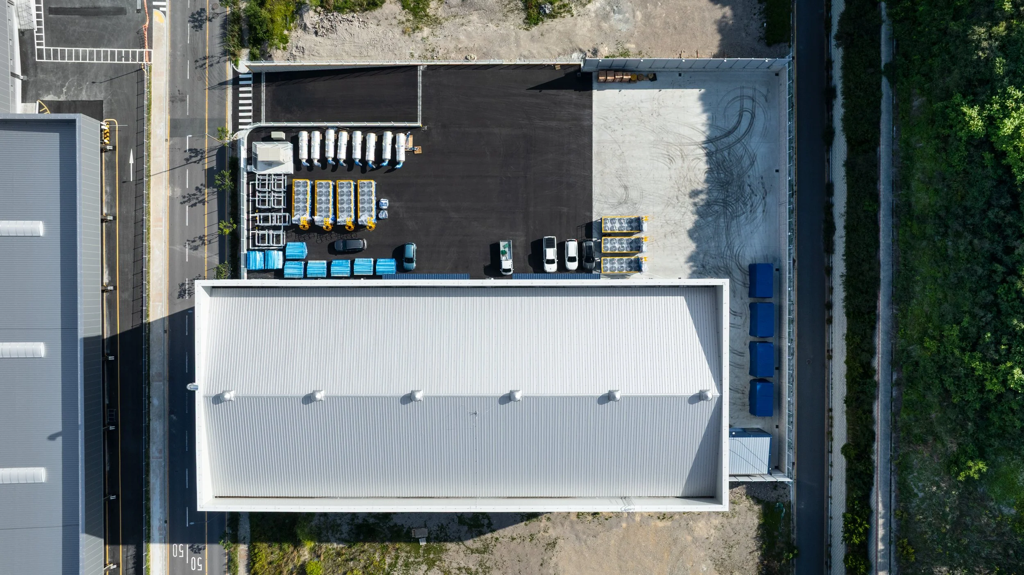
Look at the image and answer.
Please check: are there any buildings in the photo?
Yes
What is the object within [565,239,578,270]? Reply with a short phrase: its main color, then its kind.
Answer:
white vehicle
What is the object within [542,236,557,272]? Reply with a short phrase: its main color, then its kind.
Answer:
white vehicle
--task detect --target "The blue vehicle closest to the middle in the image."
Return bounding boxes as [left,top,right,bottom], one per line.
[402,242,417,271]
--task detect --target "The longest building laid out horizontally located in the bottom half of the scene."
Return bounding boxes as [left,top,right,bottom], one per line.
[179,273,729,520]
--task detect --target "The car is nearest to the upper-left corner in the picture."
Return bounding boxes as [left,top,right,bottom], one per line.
[335,238,367,254]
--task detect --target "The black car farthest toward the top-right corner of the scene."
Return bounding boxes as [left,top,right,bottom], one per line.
[582,239,595,270]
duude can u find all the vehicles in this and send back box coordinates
[402,242,417,271]
[565,239,578,270]
[542,236,557,272]
[500,240,514,275]
[335,238,367,254]
[582,239,595,270]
